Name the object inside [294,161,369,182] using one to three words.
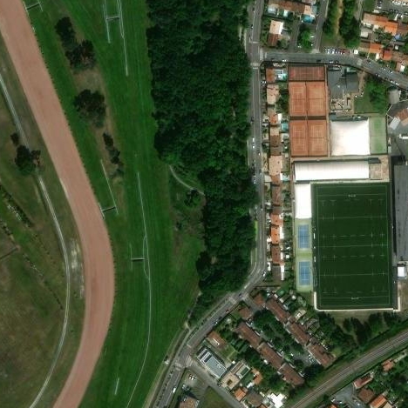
building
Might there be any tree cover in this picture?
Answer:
Yes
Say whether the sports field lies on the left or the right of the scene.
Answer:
right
